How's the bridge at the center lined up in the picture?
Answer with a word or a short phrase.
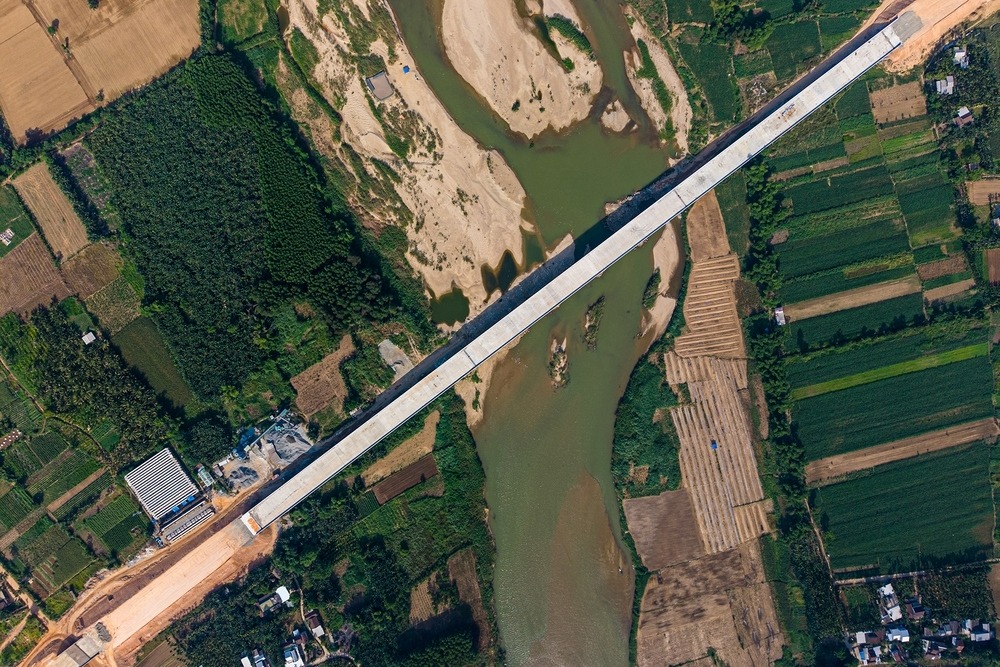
diagonally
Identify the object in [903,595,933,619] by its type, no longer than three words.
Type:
house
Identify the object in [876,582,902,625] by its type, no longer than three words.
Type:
house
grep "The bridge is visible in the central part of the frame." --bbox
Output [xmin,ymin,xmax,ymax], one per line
[236,14,910,537]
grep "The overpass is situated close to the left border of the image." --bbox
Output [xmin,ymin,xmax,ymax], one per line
[45,633,102,667]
